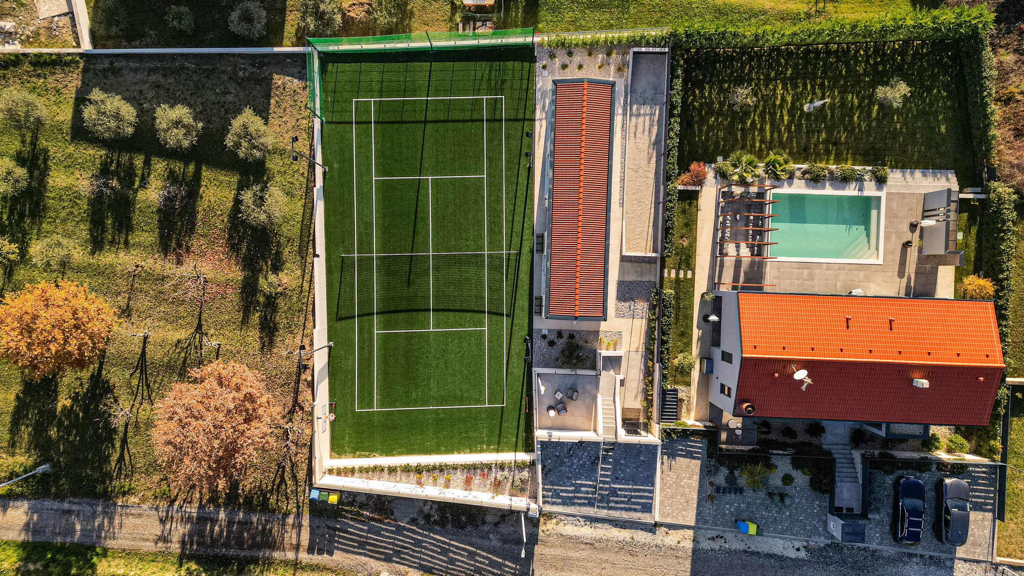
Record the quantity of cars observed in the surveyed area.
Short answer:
two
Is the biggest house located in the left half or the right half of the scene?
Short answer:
right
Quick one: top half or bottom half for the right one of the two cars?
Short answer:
bottom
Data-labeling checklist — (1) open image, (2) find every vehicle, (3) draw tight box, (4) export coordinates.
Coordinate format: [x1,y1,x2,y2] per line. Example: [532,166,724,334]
[937,477,975,545]
[892,475,929,545]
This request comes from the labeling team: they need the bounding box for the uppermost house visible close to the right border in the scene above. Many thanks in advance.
[708,290,1011,449]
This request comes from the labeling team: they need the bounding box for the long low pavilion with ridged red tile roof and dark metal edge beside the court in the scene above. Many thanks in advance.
[545,78,615,326]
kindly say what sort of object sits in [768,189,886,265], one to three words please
swimming pool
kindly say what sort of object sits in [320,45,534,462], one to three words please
tennis court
